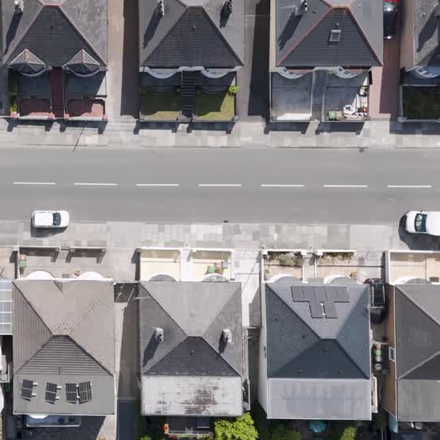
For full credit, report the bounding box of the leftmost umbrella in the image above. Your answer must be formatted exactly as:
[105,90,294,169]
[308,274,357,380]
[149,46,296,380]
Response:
[310,420,327,434]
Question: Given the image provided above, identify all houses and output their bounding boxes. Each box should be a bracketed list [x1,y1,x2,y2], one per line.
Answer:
[138,0,245,79]
[401,0,440,79]
[260,272,372,421]
[2,0,107,78]
[271,0,384,79]
[138,270,244,435]
[12,268,115,427]
[381,272,440,422]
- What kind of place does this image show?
residential area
